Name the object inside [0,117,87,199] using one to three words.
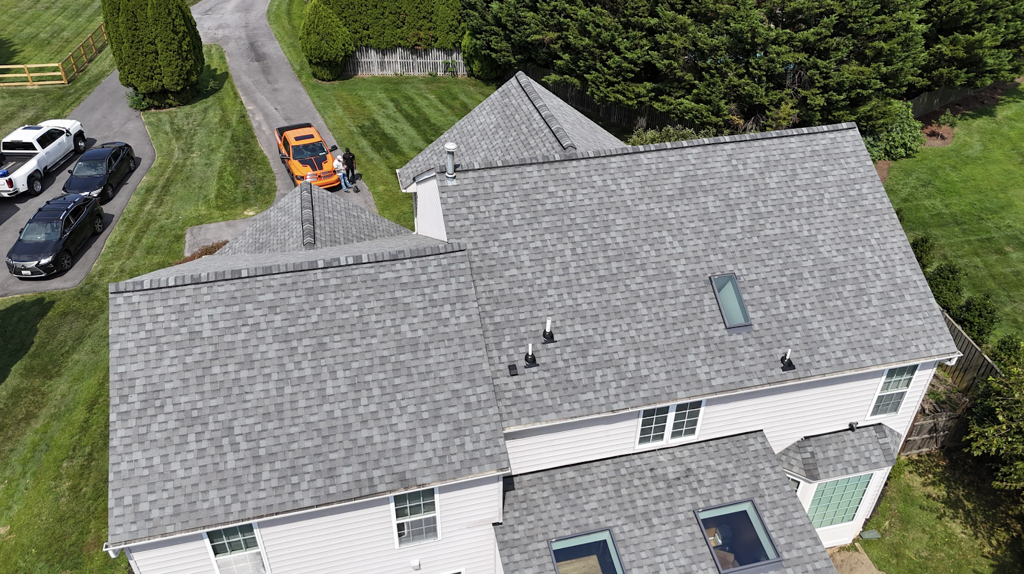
truck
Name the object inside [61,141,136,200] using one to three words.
car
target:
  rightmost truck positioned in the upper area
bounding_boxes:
[273,122,339,192]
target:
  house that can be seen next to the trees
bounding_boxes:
[103,70,963,574]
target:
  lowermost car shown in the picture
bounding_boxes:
[5,193,105,280]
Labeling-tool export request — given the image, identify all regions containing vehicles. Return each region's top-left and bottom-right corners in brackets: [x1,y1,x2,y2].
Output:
[273,122,339,192]
[61,141,136,200]
[0,117,87,199]
[5,193,105,280]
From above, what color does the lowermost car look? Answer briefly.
black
